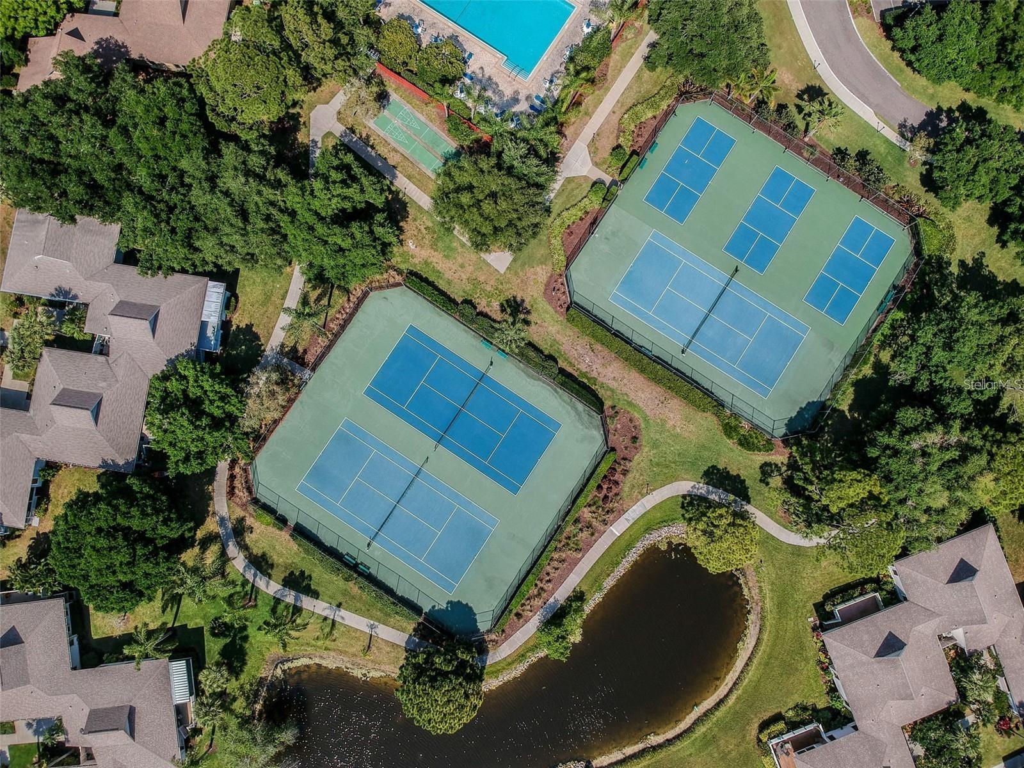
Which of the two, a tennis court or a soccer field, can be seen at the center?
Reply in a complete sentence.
What appears at the center is a tennis court.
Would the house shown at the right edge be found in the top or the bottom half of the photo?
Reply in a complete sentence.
Seen from above, the house shown at the right edge lies in the bottom half of the view.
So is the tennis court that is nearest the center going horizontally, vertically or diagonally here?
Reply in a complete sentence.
The tennis court that is nearest the center is laid out diagonally.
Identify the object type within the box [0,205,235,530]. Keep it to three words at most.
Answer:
house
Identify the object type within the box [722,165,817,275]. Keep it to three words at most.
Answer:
sports court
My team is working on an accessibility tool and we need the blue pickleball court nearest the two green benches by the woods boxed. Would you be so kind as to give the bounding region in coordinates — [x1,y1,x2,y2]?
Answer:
[802,215,897,326]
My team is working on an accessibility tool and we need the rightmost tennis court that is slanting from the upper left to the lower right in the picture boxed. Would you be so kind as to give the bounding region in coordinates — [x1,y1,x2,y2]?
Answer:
[609,229,811,399]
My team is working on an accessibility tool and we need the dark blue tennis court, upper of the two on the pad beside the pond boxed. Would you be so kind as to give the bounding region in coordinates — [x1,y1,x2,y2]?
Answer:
[362,323,563,496]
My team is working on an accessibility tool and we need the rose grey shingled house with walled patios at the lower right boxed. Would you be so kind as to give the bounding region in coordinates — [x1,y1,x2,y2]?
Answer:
[769,523,1024,768]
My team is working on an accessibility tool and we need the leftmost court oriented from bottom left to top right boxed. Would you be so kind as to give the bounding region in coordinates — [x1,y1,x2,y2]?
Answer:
[643,116,737,225]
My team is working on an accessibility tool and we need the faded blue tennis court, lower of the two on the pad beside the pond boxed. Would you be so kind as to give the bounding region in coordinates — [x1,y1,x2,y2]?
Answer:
[297,417,499,594]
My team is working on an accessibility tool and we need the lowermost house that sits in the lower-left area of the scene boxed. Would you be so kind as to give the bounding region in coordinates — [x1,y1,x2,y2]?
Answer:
[0,586,205,768]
